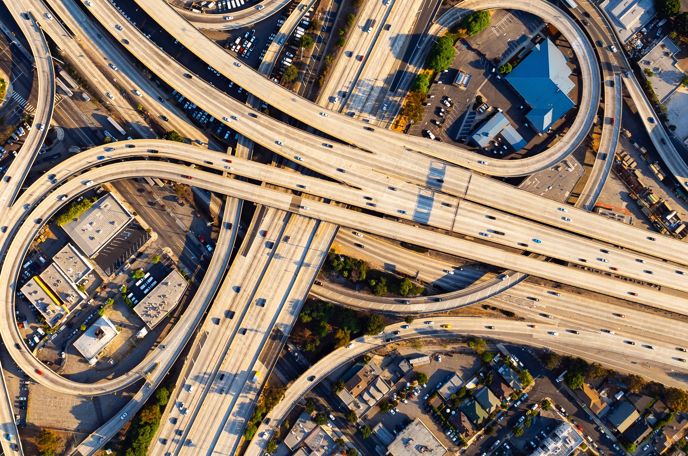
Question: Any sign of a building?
Yes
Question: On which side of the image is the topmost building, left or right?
right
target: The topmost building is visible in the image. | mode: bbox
[596,0,656,45]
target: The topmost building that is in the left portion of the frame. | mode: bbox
[60,192,134,258]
